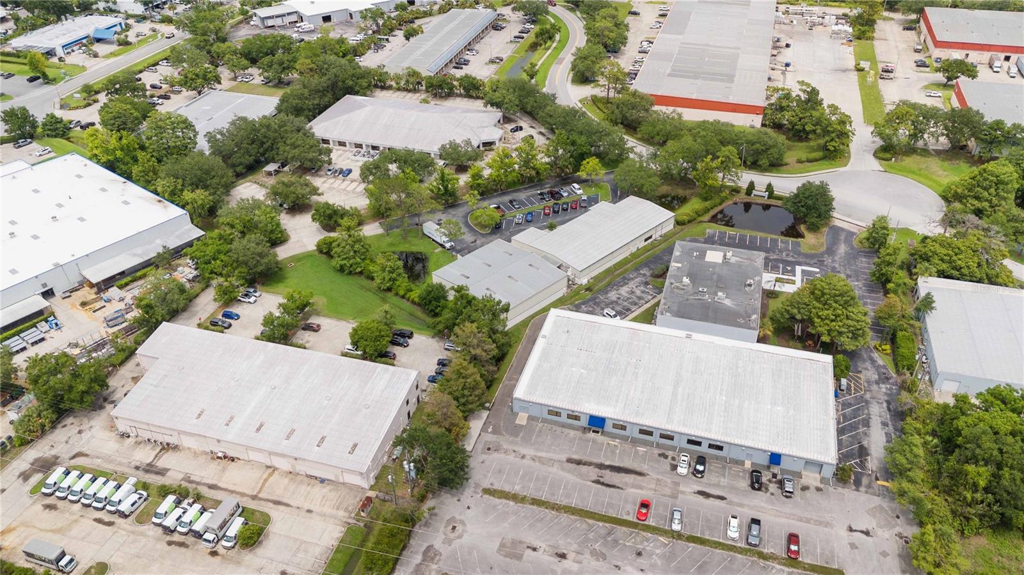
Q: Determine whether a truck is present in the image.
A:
Yes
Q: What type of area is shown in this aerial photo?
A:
industrial area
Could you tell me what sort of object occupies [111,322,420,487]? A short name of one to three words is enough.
warehouse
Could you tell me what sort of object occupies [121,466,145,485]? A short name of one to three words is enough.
vehicle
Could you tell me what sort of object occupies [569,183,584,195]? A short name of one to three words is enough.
vehicle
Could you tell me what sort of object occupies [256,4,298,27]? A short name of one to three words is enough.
building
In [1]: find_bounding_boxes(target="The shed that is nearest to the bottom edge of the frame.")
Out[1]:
[351,492,374,521]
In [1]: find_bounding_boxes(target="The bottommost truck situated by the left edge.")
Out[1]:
[23,536,73,571]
